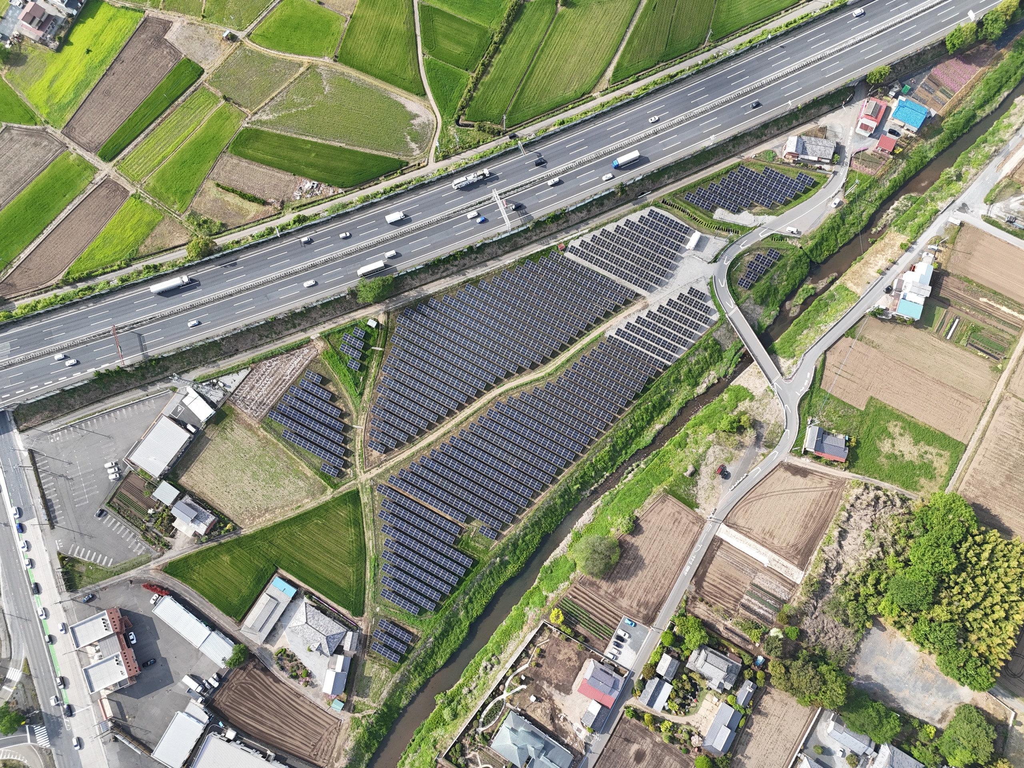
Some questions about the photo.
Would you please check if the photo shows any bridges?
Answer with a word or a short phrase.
Yes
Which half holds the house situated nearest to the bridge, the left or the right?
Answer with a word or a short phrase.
right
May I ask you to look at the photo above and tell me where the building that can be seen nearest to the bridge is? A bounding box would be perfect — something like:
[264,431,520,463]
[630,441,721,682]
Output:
[802,425,849,462]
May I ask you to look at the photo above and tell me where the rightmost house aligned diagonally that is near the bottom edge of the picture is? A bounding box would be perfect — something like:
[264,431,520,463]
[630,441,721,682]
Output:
[825,713,877,757]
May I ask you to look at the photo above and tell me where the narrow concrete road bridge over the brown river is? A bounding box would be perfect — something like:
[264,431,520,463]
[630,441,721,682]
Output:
[728,312,777,376]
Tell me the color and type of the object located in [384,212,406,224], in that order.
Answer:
white vehicle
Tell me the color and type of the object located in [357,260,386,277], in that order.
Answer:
white vehicle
